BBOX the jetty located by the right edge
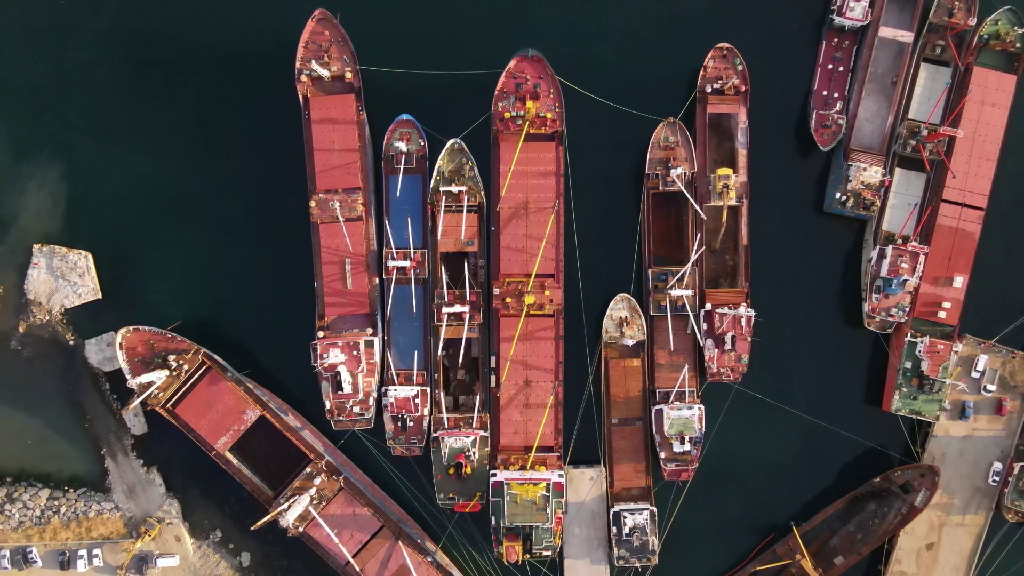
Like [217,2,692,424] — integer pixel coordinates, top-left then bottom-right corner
[883,333,1024,576]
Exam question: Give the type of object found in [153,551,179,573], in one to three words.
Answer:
vehicle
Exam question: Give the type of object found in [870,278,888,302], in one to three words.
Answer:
boat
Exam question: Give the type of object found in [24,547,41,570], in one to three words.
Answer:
car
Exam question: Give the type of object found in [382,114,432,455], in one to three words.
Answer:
ship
